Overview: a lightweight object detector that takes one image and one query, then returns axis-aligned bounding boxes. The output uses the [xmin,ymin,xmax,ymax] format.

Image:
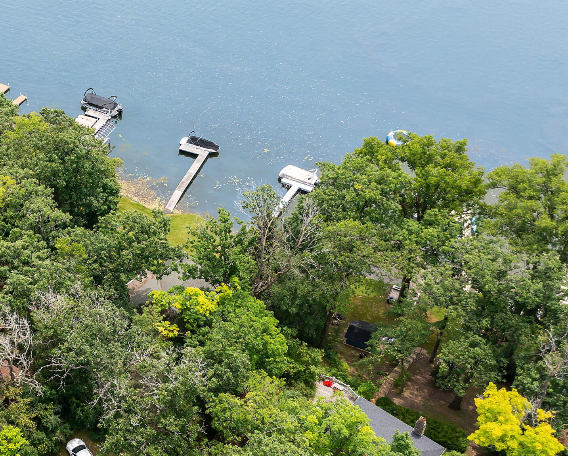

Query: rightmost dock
[264,179,314,220]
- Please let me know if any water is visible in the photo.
Yes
